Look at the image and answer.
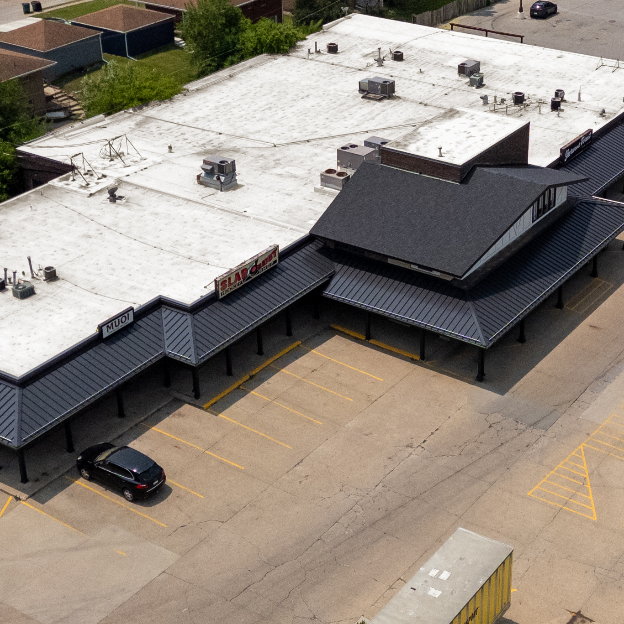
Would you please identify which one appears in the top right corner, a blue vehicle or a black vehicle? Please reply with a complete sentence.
Looking in the top right corner, you will find a black vehicle.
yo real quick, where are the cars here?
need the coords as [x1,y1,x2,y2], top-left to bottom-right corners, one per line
[529,0,561,19]
[72,441,167,500]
